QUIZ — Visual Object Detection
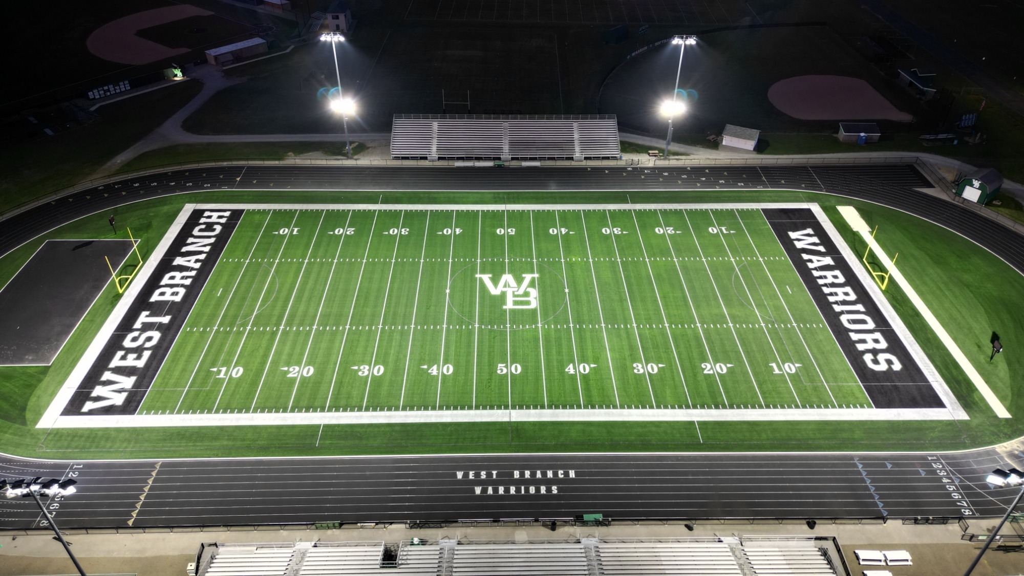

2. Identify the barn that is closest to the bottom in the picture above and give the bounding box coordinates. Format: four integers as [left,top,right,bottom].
[957,167,1006,207]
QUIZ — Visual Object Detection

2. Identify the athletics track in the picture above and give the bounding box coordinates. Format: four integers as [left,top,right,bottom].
[0,163,1024,533]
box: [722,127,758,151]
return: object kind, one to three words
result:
shed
